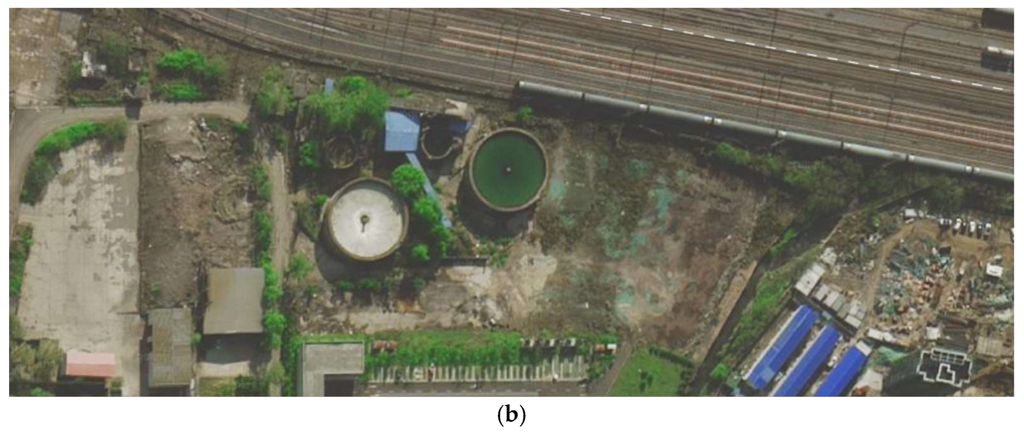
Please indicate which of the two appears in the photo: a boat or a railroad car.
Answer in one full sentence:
The one in the frame is a railroad car.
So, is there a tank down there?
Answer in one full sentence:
Yes, the picture does show a tank.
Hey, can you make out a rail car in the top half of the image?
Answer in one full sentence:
Yes, a rail car is visible in the top half of the image.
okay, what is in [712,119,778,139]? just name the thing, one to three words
rail car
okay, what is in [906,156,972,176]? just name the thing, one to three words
rail car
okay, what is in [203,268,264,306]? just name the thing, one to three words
shed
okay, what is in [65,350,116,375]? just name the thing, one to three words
house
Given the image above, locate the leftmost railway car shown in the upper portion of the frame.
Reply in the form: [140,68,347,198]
[517,82,584,102]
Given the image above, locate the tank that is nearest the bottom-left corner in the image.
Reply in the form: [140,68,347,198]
[321,179,408,261]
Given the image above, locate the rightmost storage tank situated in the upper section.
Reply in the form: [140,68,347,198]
[466,126,548,213]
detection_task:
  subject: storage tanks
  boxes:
[466,126,548,213]
[321,179,408,261]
